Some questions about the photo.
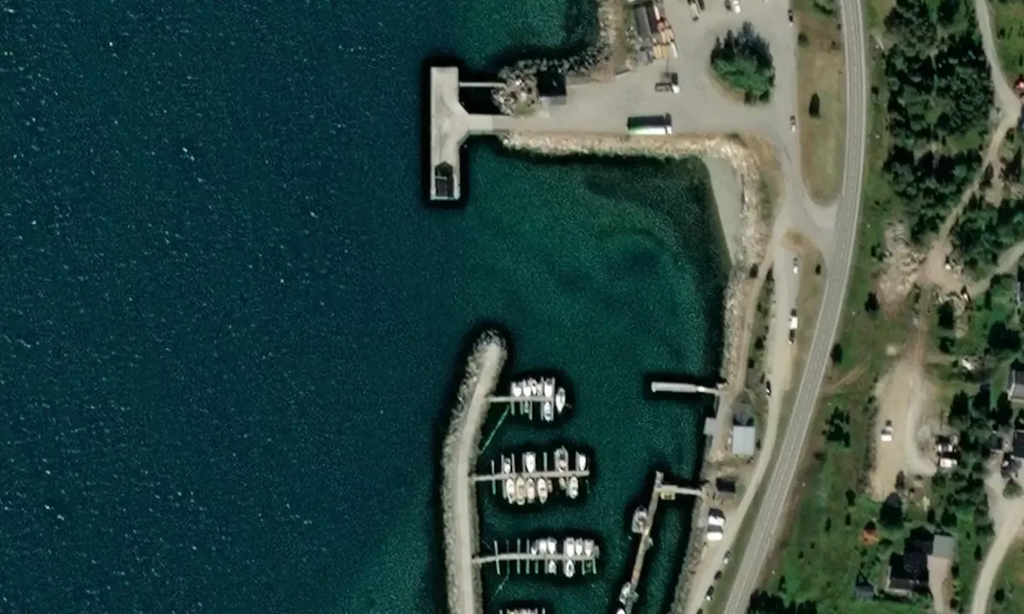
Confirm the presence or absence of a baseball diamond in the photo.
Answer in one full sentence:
No, there appears to be no baseball diamond in this shot.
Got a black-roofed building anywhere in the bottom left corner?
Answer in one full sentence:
No, looking in the bottom left corner, there is no black-roofed building.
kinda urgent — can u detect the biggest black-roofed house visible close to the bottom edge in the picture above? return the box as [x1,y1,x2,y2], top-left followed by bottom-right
[885,538,933,596]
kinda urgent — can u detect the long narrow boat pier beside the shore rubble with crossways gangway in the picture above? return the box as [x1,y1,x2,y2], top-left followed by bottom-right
[625,471,703,614]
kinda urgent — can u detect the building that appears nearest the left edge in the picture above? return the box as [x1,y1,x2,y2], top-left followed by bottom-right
[537,78,566,105]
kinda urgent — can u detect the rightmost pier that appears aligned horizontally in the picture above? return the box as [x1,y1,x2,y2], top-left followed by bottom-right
[651,381,719,394]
